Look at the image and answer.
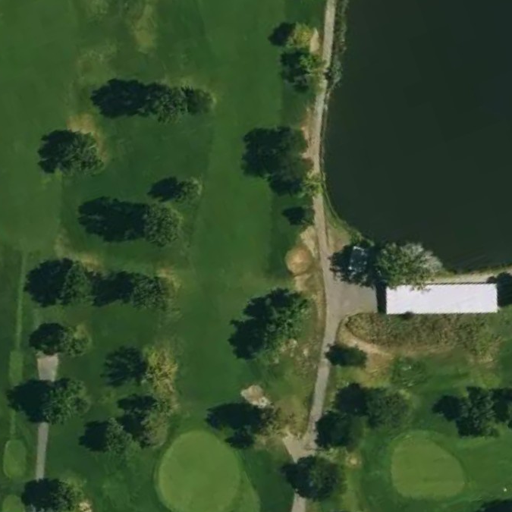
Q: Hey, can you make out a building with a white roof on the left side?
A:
No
